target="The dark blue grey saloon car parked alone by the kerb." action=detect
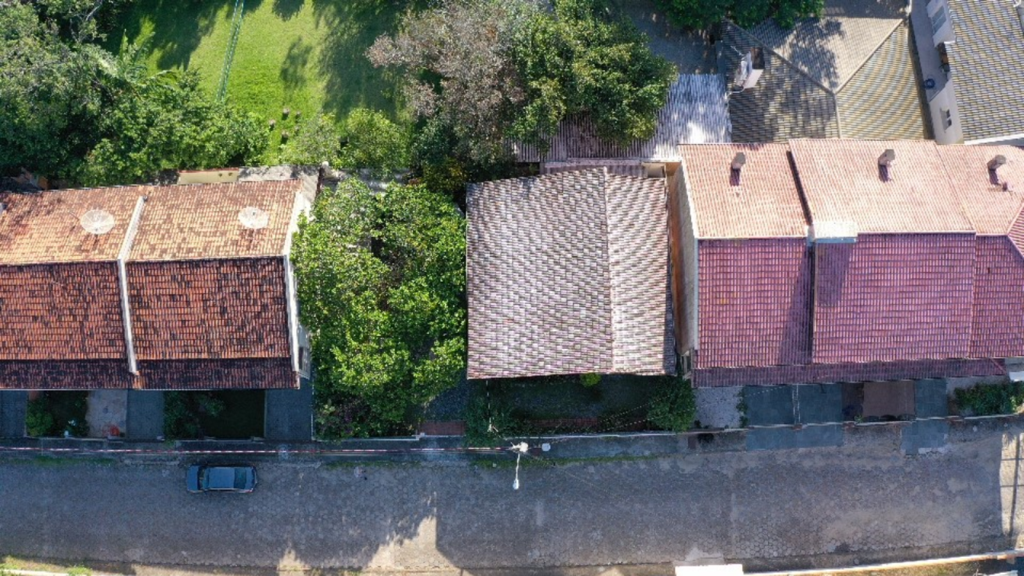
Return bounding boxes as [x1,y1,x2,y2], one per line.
[183,461,260,499]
